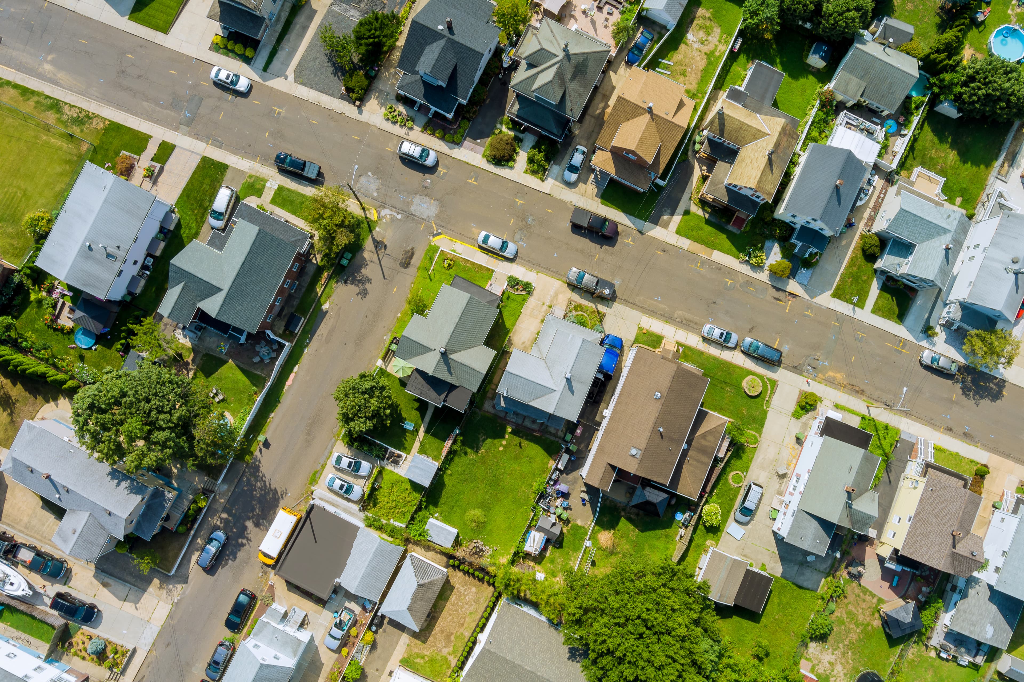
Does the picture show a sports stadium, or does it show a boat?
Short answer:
boat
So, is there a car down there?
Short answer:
Yes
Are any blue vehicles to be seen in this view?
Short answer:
Yes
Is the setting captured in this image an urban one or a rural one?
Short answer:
urban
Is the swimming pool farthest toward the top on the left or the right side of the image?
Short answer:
right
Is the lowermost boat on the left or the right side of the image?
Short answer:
left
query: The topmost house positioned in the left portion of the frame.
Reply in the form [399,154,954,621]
[206,0,283,48]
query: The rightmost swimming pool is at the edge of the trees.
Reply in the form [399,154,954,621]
[986,23,1024,59]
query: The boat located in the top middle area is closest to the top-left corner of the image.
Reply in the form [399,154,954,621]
[499,42,517,76]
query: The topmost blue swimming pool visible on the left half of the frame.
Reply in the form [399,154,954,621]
[73,326,100,349]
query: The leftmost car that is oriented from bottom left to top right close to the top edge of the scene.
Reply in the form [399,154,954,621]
[624,26,656,66]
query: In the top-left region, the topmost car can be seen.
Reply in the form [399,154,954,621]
[208,66,253,93]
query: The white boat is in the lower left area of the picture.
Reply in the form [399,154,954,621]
[0,568,40,599]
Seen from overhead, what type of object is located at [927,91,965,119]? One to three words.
shed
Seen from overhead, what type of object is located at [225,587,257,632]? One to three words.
car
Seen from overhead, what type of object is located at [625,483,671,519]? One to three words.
gazebo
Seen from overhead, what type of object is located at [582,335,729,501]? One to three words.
house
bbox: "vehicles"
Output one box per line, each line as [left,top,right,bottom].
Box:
[7,542,69,577]
[624,26,656,66]
[274,148,323,177]
[730,479,765,522]
[565,267,616,298]
[195,529,230,572]
[396,140,438,168]
[917,349,960,375]
[700,321,738,345]
[739,338,785,366]
[257,504,303,567]
[588,330,627,399]
[225,587,257,632]
[46,590,99,625]
[324,605,355,649]
[207,183,239,229]
[476,231,518,258]
[569,208,618,238]
[323,472,365,499]
[208,66,253,93]
[329,451,373,477]
[564,143,589,186]
[844,222,857,227]
[205,638,235,681]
